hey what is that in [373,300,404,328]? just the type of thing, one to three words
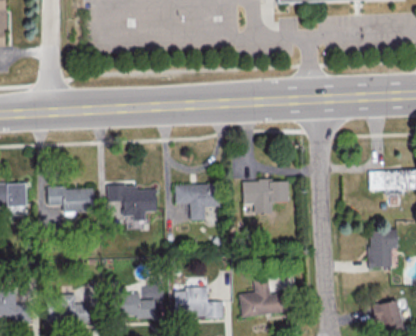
house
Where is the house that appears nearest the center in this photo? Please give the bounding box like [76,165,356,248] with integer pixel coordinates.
[175,184,218,221]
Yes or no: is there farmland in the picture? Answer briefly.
No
